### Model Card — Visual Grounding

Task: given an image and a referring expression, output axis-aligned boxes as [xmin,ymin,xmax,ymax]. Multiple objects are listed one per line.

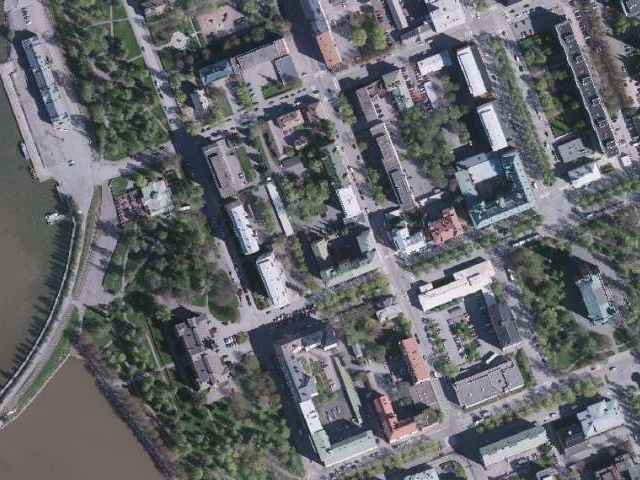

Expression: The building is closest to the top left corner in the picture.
[23,37,70,129]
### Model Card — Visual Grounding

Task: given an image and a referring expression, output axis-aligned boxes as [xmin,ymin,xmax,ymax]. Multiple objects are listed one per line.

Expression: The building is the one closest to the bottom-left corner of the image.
[176,315,225,392]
